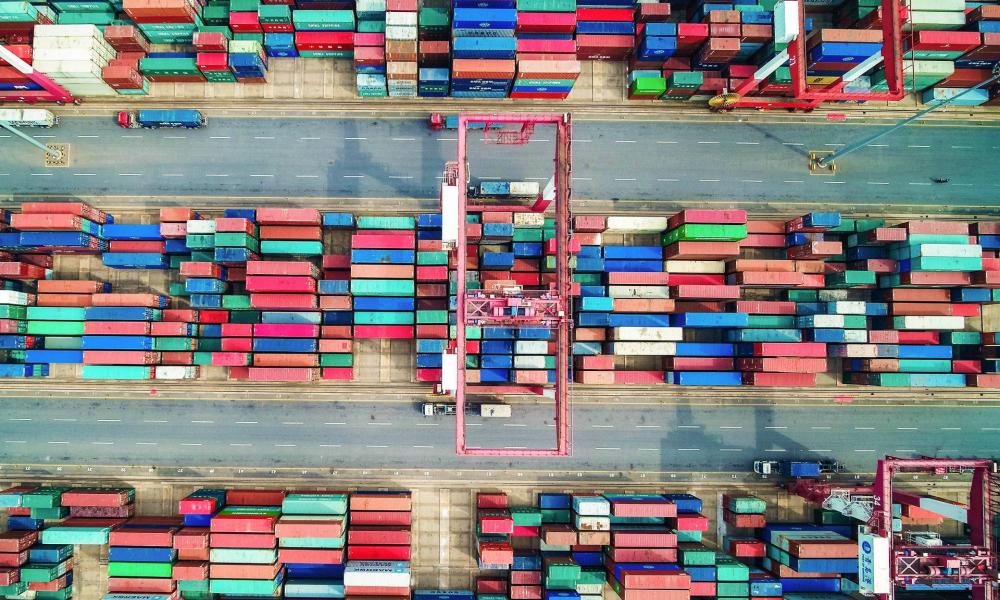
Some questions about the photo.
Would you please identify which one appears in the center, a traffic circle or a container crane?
container crane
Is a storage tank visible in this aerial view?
No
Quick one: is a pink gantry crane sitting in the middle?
Yes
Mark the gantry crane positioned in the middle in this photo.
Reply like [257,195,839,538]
[429,112,578,456]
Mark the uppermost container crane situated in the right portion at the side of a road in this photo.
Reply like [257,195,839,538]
[698,0,916,110]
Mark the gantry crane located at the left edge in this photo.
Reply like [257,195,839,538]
[0,48,77,102]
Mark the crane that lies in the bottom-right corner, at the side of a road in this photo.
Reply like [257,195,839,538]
[775,458,1000,600]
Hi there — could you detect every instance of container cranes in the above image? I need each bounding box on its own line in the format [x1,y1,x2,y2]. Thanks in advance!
[698,0,916,110]
[0,48,77,102]
[429,112,578,456]
[775,458,1000,600]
